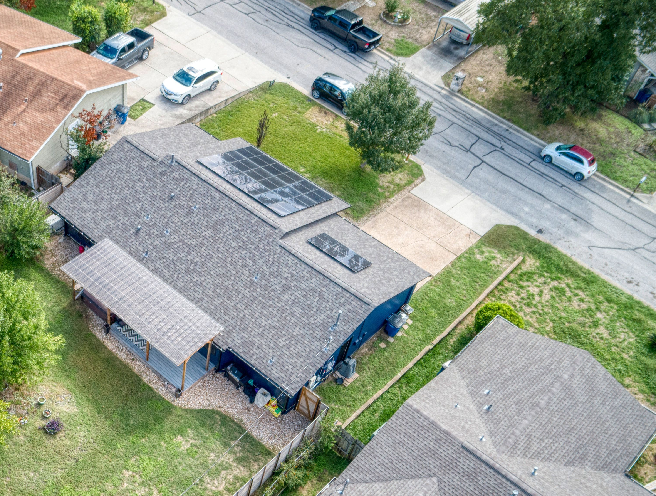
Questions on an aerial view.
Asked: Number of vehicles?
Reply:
six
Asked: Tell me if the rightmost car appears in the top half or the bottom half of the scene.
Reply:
top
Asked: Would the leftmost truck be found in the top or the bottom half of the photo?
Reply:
top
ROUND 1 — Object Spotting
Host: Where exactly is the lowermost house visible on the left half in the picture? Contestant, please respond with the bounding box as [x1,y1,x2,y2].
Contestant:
[46,121,432,417]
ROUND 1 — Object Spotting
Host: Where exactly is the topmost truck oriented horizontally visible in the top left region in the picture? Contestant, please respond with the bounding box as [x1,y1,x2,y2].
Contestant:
[86,29,160,70]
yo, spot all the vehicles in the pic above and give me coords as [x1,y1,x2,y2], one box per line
[446,16,482,46]
[541,141,608,184]
[86,29,160,70]
[309,67,365,116]
[308,5,387,55]
[156,57,228,107]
